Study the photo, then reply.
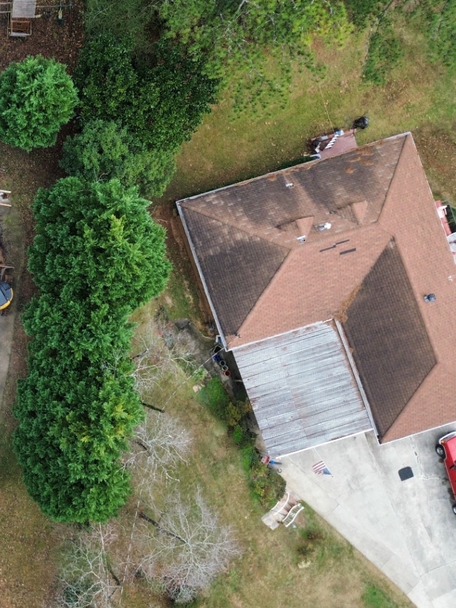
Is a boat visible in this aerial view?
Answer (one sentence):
No, no boat is visible in the view.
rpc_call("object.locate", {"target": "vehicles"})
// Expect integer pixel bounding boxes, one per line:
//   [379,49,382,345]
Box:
[0,265,14,318]
[434,426,456,496]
